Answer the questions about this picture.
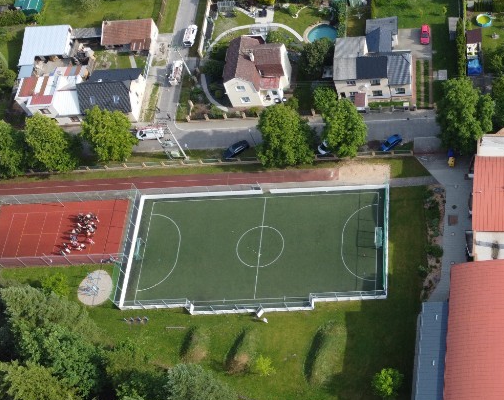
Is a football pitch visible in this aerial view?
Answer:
Yes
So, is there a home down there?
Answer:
Yes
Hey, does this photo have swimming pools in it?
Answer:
Yes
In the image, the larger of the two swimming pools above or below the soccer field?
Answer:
above it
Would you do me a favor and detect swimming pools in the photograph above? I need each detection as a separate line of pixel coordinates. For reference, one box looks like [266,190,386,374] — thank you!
[476,13,492,29]
[301,21,340,46]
